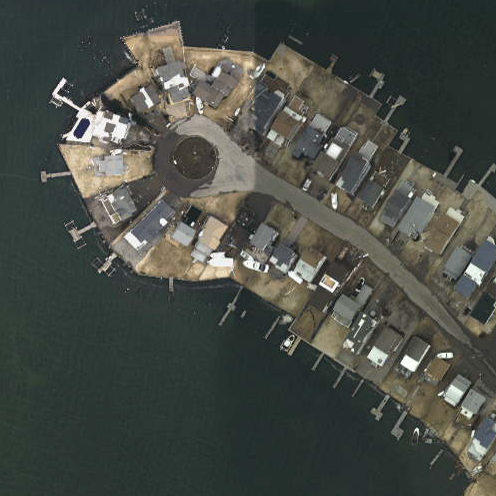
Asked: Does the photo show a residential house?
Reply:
Yes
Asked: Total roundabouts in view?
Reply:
1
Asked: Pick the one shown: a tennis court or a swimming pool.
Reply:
swimming pool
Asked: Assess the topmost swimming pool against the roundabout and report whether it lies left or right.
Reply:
to its left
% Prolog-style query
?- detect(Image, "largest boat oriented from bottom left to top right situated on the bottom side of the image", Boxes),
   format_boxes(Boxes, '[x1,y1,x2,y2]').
[281,335,293,352]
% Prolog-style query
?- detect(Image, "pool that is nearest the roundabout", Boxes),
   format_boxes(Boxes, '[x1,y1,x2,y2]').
[65,109,93,143]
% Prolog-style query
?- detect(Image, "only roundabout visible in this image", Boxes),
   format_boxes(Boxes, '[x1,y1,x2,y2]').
[153,115,256,198]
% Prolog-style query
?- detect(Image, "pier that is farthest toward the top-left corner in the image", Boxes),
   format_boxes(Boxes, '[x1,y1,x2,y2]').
[49,77,96,112]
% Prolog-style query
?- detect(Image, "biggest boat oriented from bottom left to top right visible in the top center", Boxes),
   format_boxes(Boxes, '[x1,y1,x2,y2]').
[250,63,264,79]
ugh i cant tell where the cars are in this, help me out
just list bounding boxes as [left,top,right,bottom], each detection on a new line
[462,306,472,316]
[316,190,328,201]
[303,179,312,192]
